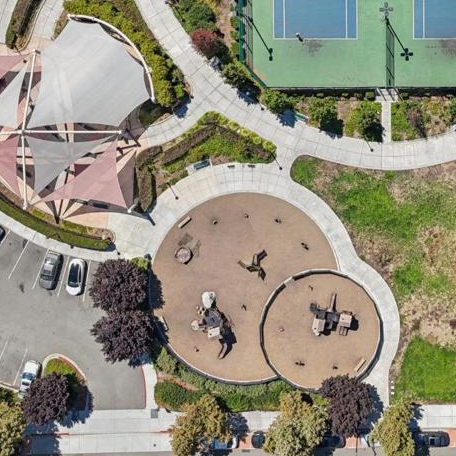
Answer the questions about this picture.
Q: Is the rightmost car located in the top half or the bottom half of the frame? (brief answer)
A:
bottom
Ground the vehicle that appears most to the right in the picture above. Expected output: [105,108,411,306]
[415,429,450,449]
